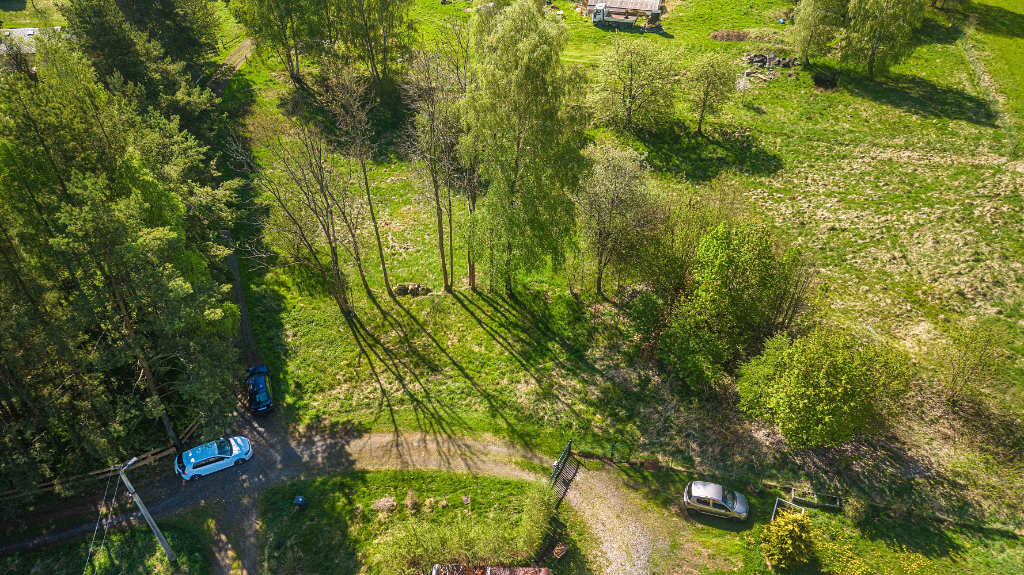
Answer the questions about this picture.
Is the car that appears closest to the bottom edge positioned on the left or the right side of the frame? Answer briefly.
right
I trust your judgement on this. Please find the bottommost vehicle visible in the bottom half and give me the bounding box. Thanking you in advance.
[680,481,748,524]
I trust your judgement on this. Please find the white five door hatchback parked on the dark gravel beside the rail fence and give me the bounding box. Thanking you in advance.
[174,432,254,480]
